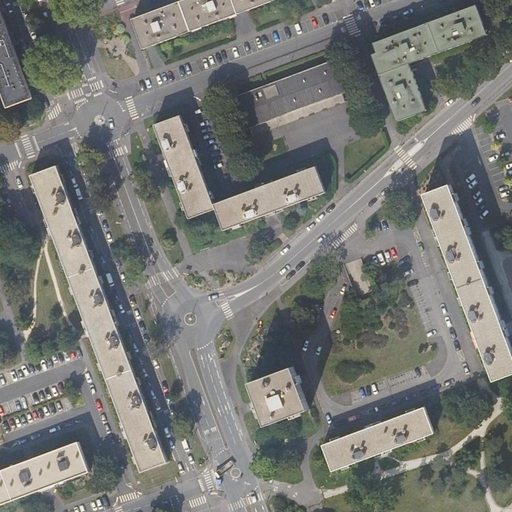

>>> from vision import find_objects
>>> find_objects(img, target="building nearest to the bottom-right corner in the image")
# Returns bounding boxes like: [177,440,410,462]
[320,406,434,472]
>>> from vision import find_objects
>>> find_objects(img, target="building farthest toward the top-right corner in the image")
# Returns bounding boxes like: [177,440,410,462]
[370,6,486,121]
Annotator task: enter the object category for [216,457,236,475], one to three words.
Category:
vehicle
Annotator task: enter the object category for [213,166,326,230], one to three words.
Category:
building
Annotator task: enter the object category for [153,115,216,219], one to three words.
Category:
building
